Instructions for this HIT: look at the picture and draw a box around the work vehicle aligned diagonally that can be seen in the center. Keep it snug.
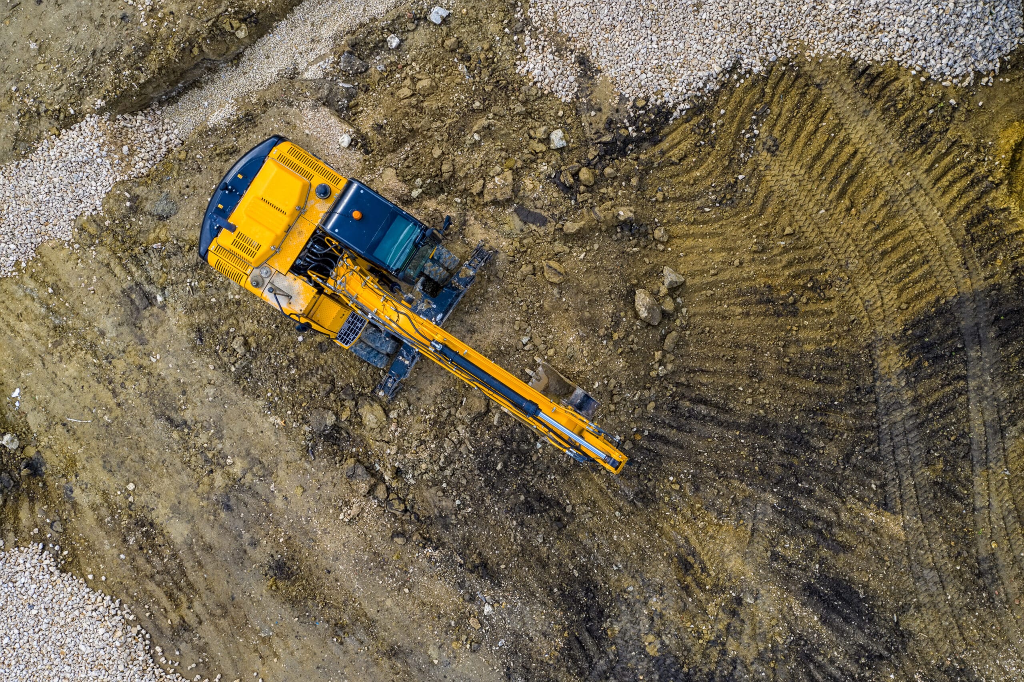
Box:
[199,135,630,476]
